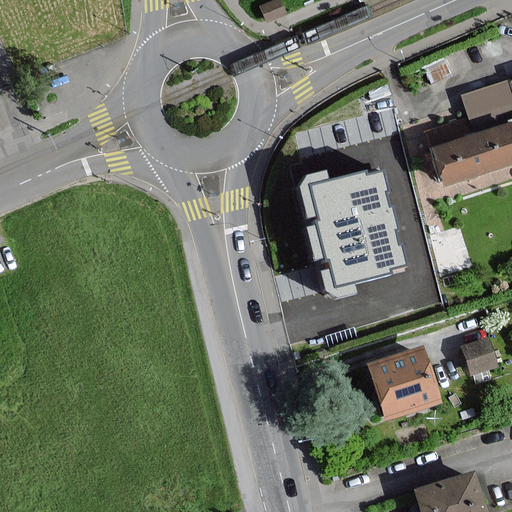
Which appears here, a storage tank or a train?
train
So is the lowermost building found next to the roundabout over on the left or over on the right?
right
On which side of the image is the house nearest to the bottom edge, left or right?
right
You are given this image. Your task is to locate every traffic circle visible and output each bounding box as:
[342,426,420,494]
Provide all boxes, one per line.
[122,20,278,192]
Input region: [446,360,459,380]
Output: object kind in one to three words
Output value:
vehicle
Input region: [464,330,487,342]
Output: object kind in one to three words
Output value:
vehicle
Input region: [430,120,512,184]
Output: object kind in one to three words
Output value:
house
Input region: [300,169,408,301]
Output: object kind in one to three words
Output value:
building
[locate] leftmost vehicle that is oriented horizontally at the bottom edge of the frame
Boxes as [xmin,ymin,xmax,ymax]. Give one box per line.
[344,475,370,488]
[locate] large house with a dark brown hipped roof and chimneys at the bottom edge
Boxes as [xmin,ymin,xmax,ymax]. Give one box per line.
[414,471,488,512]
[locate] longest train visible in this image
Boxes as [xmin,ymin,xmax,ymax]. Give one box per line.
[231,7,372,76]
